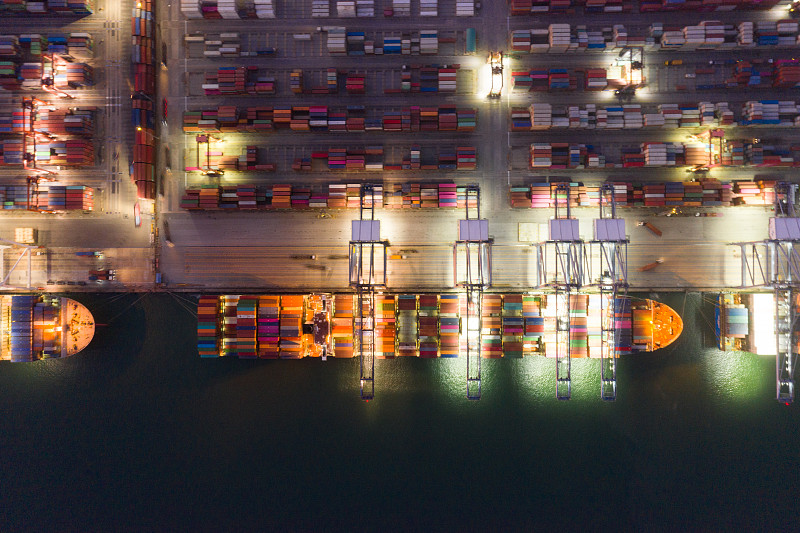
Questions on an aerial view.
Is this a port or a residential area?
port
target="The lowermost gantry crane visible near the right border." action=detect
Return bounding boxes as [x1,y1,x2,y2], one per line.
[727,184,800,404]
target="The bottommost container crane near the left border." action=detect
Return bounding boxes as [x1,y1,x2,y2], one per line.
[0,239,46,288]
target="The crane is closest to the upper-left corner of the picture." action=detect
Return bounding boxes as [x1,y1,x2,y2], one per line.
[41,53,77,97]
